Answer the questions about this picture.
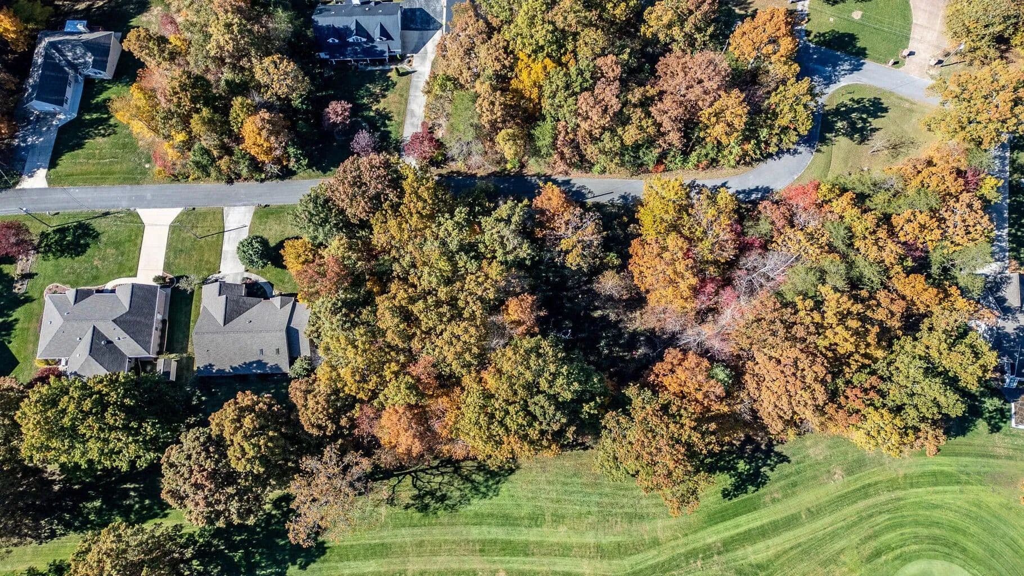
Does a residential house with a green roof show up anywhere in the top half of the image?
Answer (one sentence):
No, in the top half of the image there is no residential house with a green roof.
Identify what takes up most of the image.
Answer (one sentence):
The bulk of the photo consists of trees.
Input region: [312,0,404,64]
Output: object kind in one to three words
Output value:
house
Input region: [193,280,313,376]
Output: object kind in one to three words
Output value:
house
